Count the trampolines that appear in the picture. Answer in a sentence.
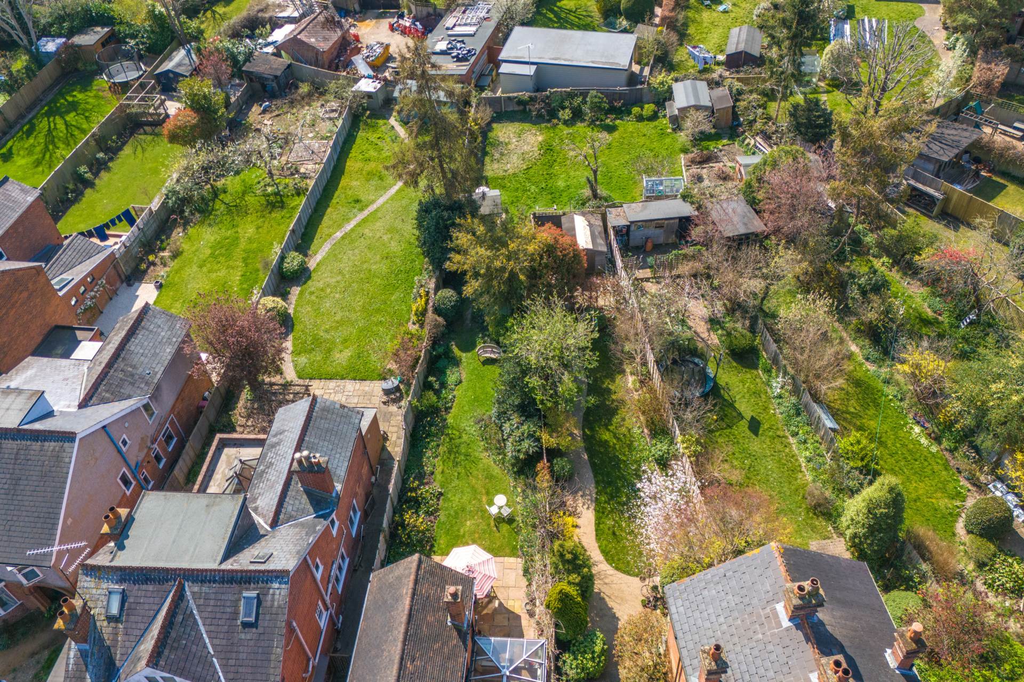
The number of trampolines here is 2.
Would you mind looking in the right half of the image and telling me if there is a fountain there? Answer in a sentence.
No, I can find no fountain in the right half of the image.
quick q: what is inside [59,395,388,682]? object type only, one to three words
house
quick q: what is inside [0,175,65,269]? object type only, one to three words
house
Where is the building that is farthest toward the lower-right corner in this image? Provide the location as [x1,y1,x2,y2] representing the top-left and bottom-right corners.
[662,541,929,682]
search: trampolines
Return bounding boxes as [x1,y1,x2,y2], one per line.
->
[660,335,717,401]
[94,43,148,91]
